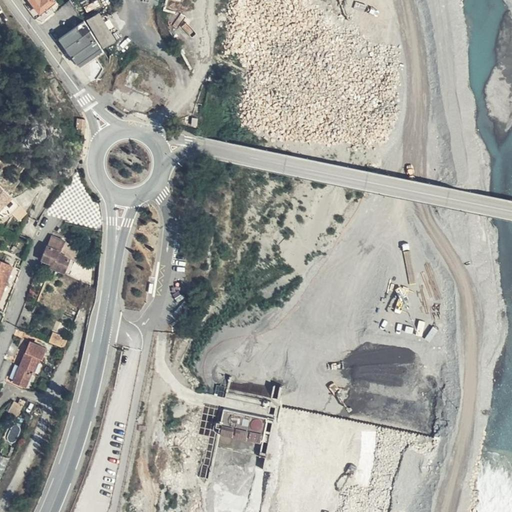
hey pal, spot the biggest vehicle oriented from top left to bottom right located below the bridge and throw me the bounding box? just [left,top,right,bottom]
[326,381,348,407]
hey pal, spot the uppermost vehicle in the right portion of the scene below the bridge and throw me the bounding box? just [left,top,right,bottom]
[403,246,416,287]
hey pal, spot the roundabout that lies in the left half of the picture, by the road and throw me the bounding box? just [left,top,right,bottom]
[88,122,174,222]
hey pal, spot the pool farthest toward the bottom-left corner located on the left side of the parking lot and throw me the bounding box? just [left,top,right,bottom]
[4,422,22,443]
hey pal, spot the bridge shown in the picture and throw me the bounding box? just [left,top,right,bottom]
[188,137,512,221]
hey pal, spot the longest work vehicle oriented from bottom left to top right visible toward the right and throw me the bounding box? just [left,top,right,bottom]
[336,461,358,486]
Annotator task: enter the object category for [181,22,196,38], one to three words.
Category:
vehicle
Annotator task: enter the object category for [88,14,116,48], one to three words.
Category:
house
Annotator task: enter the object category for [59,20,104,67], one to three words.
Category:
building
